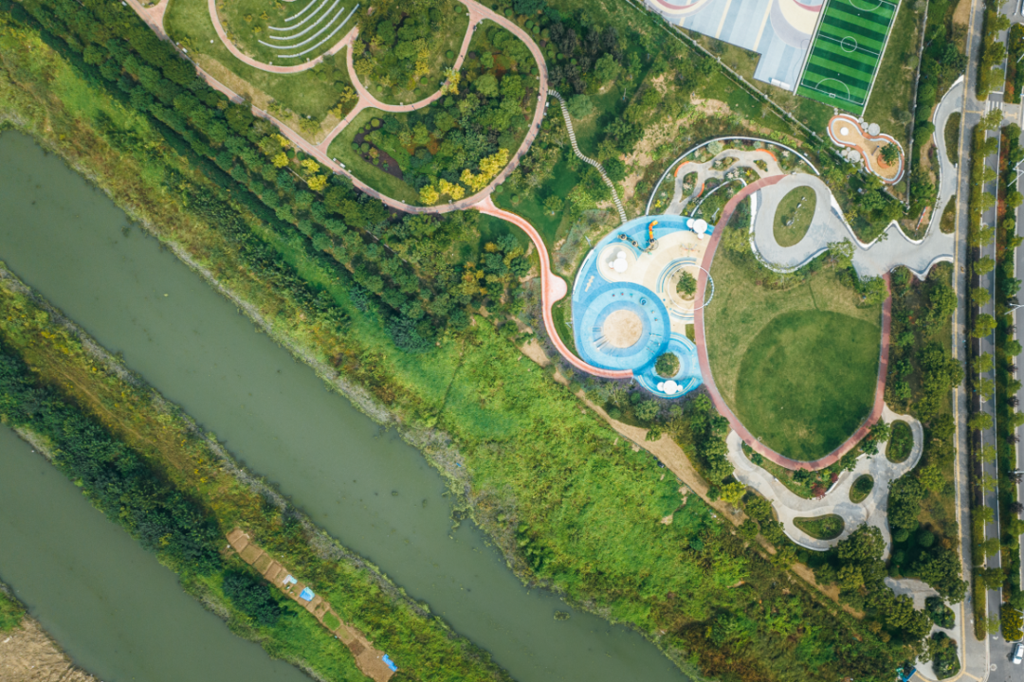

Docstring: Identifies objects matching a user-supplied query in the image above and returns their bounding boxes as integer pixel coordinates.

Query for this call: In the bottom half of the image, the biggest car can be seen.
[1010,643,1023,664]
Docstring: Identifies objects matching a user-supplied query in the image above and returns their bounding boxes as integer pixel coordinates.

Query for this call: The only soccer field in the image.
[792,0,900,118]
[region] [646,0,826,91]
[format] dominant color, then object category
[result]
white sports court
